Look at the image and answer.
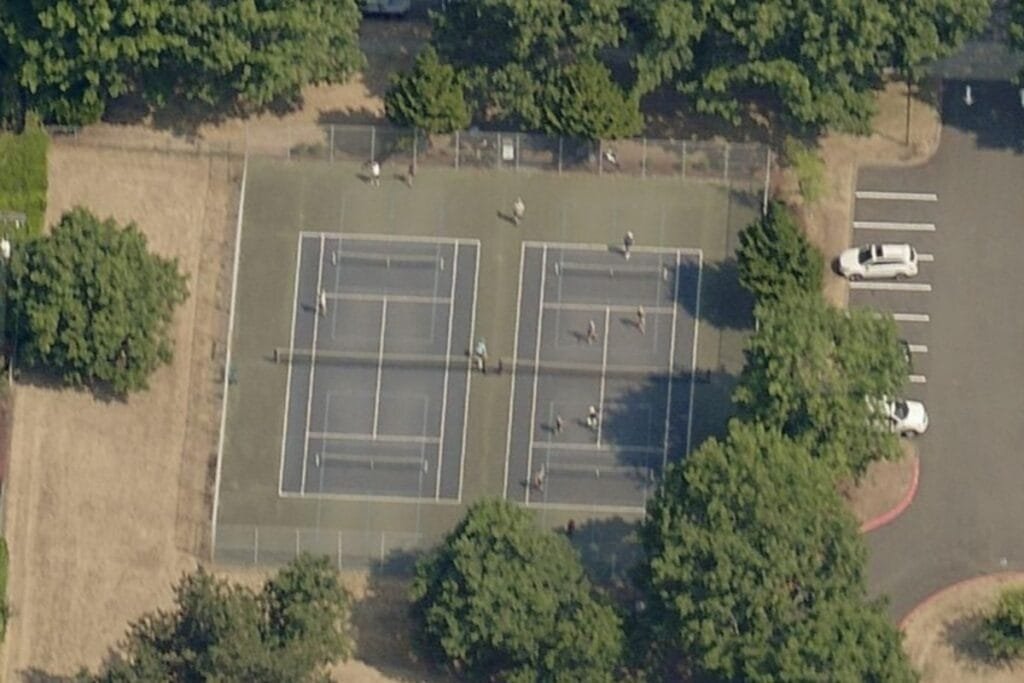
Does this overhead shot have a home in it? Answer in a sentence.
No, I can see no home in this picture.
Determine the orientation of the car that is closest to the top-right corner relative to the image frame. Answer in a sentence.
Seen from above, the car that is closest to the top-right corner lies from left to right.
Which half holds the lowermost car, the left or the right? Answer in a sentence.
The lowermost car is on the right side of the image.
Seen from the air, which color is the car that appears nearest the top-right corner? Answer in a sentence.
The color of the car that appears nearest the top-right corner is white.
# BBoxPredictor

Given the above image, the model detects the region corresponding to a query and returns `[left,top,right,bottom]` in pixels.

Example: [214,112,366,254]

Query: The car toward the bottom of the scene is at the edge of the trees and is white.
[881,404,929,438]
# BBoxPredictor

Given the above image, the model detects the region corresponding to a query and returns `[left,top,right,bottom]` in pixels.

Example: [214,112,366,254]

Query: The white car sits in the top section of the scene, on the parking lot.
[840,245,918,284]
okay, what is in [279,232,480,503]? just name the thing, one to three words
tennis court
